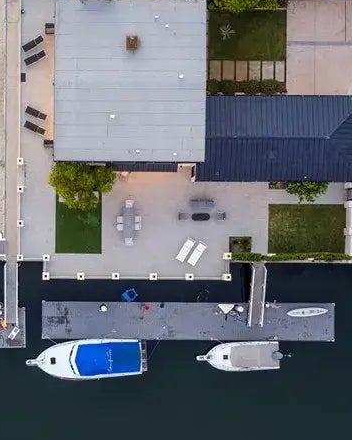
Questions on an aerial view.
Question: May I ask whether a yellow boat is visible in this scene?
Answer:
No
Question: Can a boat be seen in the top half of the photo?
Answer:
No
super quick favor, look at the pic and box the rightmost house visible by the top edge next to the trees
[53,0,206,172]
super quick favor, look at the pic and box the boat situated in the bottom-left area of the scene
[25,335,160,381]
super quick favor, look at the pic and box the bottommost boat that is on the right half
[196,339,292,371]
